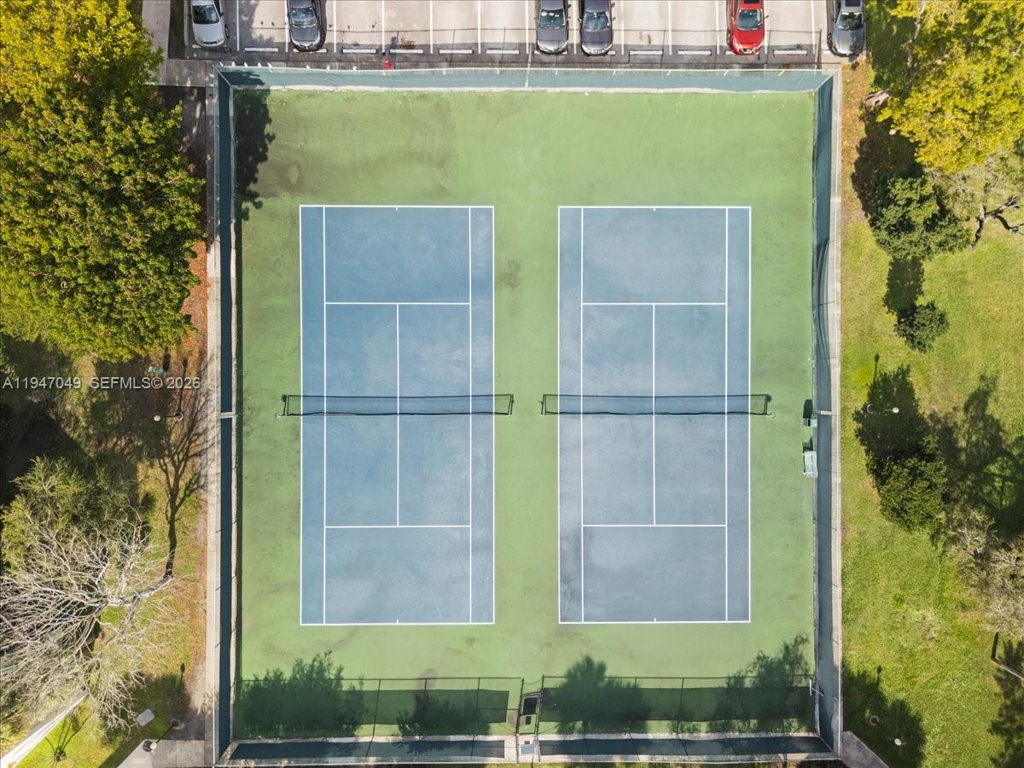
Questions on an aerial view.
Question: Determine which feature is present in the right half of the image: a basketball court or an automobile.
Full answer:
Looking in the right half of the image, you will find an automobile.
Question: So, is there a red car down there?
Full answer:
Yes, there's a red car down there.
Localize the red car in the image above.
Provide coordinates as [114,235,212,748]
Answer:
[727,0,770,57]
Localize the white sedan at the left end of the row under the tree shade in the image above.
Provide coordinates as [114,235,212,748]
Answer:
[187,0,229,50]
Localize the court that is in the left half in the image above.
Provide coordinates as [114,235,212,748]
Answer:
[300,205,494,625]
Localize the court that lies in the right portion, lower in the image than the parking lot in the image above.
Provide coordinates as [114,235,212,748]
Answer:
[559,206,750,624]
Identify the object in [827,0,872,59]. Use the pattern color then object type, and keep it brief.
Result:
gray car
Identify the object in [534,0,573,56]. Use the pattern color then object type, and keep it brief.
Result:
gray car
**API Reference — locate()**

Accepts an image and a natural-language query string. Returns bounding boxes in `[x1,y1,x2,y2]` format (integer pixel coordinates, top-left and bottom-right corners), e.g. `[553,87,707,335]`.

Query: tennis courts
[559,206,750,624]
[300,205,494,625]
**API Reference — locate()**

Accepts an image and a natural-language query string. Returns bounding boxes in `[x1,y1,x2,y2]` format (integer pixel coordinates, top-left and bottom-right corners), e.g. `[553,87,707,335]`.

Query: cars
[187,0,229,50]
[534,0,573,56]
[727,0,770,57]
[579,0,618,57]
[827,0,872,59]
[283,0,323,53]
